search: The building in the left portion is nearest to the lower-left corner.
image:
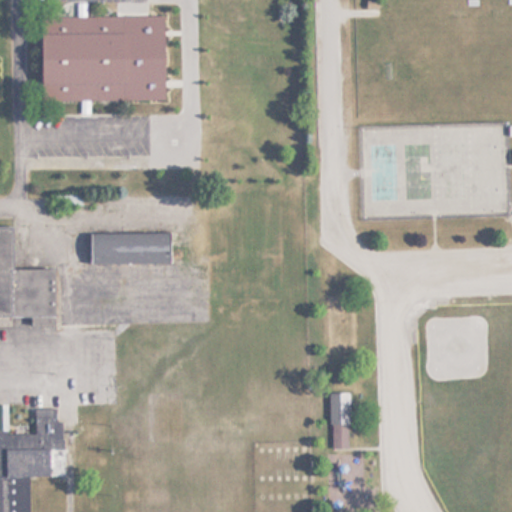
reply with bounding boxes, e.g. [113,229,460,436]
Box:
[0,408,66,512]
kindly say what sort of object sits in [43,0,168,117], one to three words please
building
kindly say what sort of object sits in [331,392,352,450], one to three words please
house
